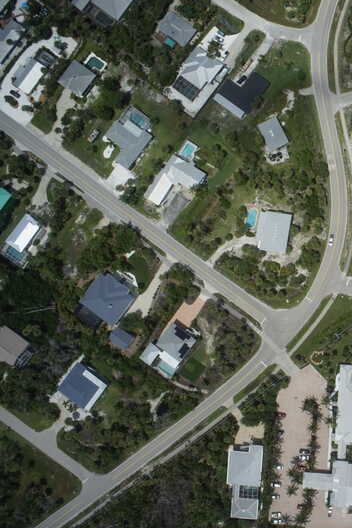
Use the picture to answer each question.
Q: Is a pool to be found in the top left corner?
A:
Yes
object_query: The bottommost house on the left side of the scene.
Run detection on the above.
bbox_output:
[58,354,109,411]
